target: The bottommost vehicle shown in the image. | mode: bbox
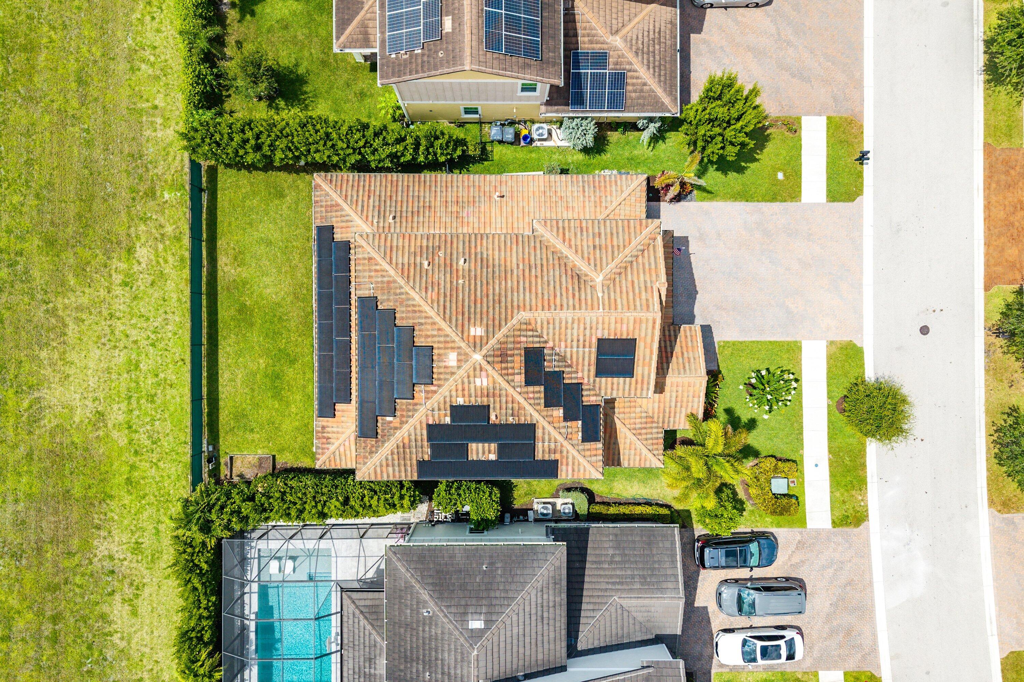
[712,626,801,671]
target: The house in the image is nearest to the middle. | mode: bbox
[312,173,708,482]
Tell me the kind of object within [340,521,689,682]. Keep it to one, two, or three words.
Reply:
house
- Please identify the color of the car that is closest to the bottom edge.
white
